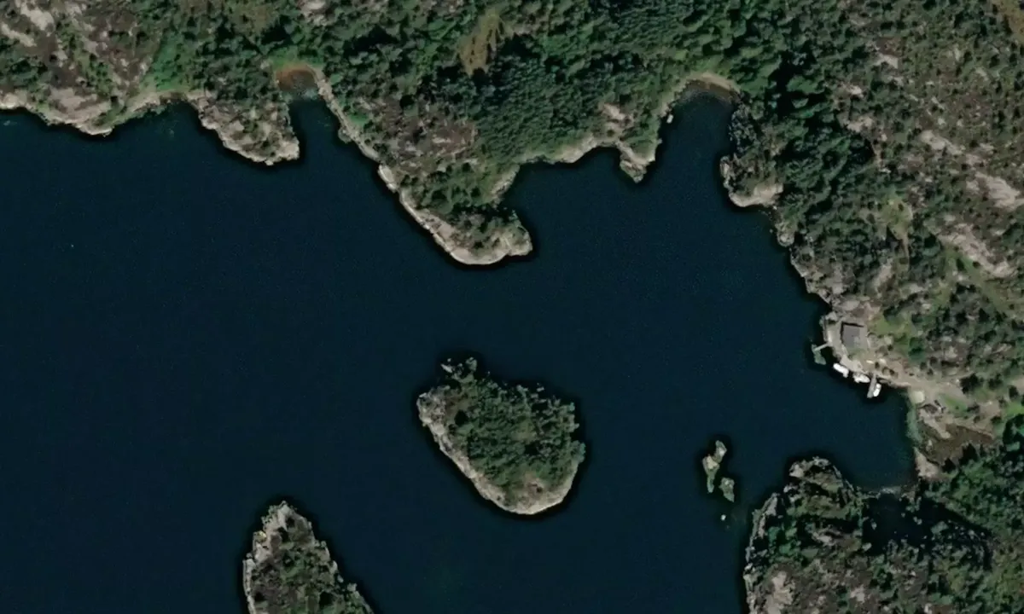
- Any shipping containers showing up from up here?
No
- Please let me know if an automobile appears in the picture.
No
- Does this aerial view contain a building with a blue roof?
No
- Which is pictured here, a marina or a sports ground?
marina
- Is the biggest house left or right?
right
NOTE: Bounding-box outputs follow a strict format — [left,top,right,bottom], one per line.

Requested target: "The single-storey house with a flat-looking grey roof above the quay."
[842,324,867,349]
